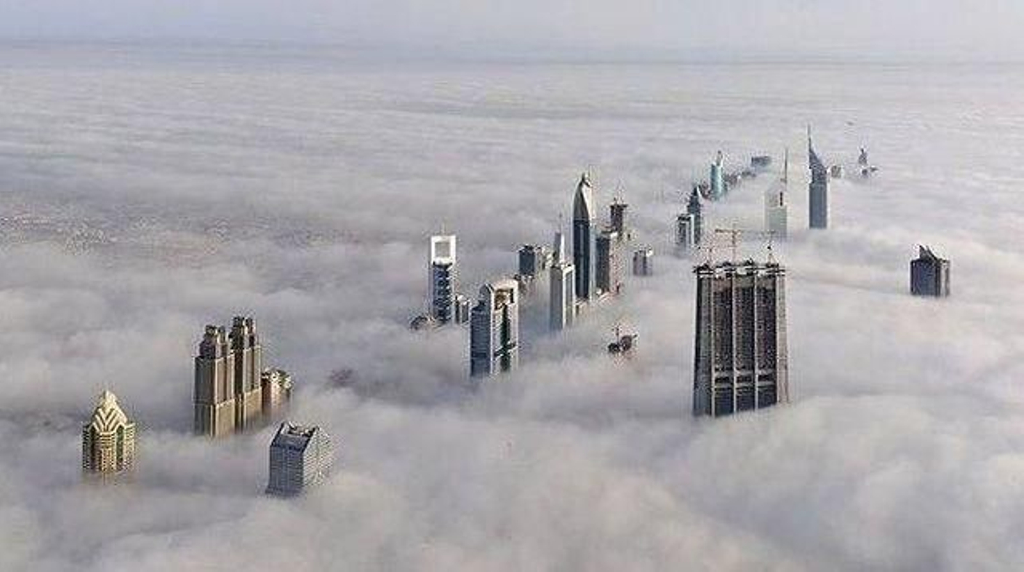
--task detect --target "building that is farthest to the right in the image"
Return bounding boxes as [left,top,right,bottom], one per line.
[911,240,943,314]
